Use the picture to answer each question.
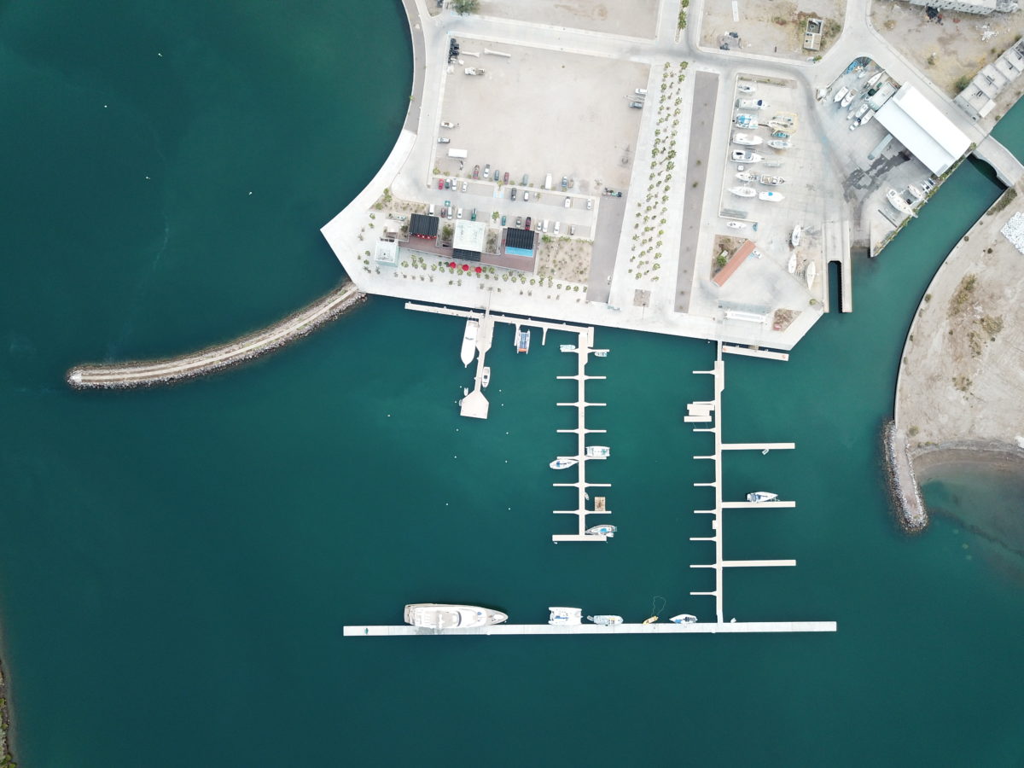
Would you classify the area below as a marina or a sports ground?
marina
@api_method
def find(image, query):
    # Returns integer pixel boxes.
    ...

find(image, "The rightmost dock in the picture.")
[883,422,929,530]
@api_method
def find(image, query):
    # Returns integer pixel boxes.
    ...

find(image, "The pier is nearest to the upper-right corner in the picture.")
[822,205,852,313]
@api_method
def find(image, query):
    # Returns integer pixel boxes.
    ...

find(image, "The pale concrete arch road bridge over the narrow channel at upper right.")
[968,134,1024,189]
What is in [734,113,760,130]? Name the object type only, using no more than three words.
boat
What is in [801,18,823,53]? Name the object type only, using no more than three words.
shed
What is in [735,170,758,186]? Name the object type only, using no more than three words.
boat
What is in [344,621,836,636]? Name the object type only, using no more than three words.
pier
